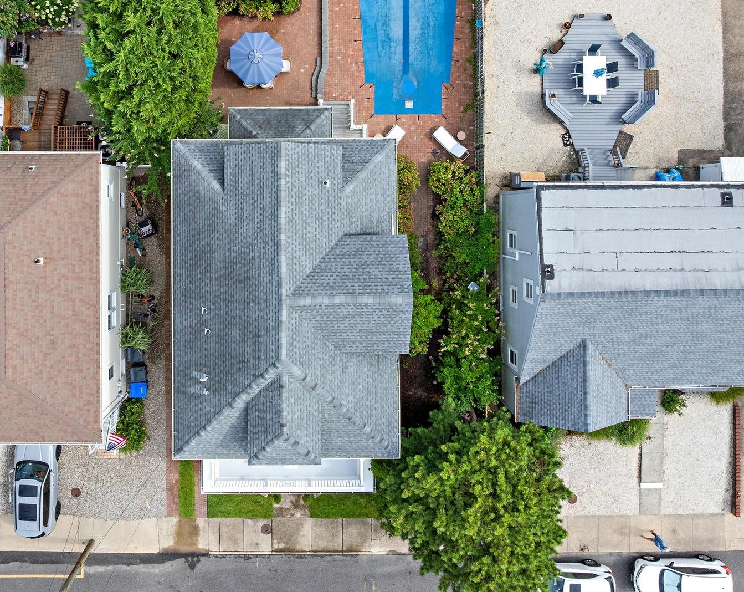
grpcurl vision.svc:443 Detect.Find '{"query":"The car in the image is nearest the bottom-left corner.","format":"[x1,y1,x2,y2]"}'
[4,446,58,542]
